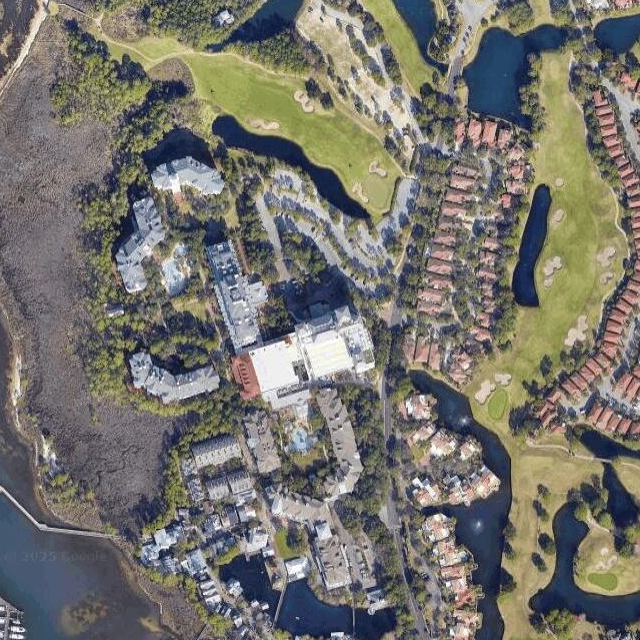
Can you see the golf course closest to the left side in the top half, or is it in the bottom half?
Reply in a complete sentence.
The golf course closest to the left side sits in the top half of the picture.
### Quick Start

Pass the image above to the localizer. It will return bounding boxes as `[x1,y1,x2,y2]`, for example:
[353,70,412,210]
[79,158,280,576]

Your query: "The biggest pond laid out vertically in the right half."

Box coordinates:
[512,184,551,308]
